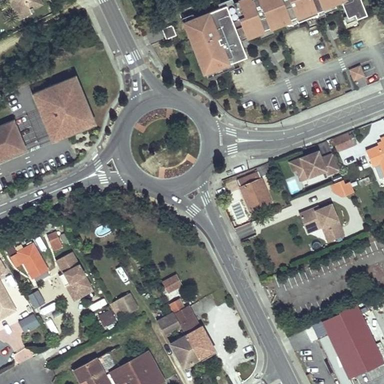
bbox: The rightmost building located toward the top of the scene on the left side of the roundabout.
[33,76,96,144]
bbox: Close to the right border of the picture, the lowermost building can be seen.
[312,307,384,384]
